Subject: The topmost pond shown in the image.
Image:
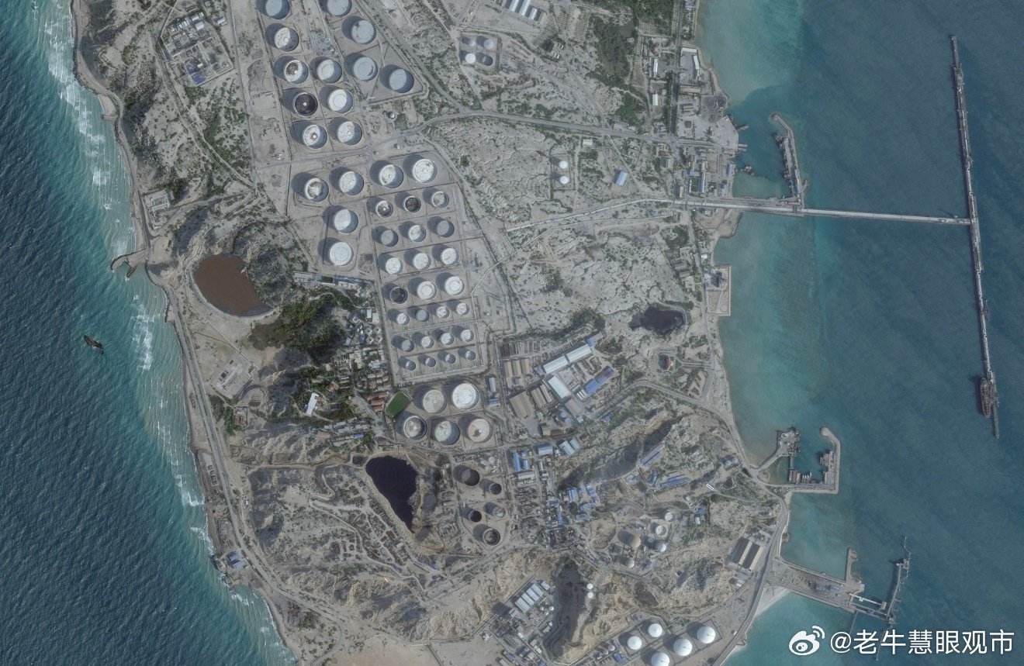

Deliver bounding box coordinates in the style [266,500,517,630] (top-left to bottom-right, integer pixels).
[194,255,271,316]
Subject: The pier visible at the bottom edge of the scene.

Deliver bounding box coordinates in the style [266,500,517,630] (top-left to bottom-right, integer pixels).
[780,538,911,666]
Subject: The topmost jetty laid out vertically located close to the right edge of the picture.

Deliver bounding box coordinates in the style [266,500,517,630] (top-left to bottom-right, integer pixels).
[804,36,1001,437]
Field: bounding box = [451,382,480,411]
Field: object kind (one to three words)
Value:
storage tank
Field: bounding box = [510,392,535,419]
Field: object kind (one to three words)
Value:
building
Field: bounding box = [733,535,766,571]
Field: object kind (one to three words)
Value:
building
